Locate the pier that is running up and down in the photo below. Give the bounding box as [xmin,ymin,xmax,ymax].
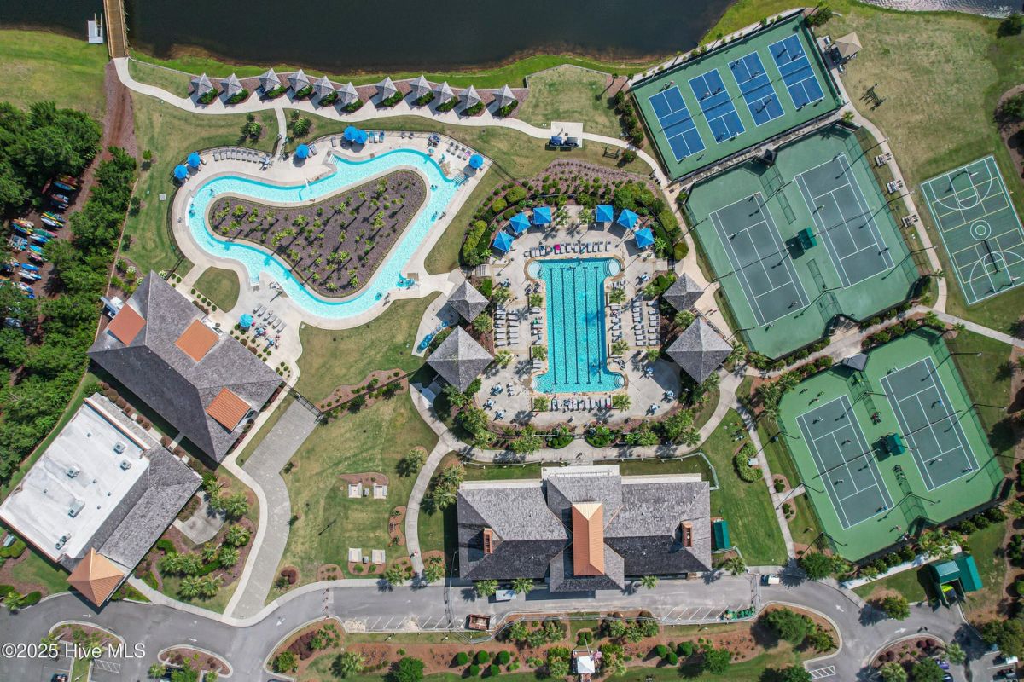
[88,10,104,45]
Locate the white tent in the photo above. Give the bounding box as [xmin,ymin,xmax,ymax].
[577,655,595,674]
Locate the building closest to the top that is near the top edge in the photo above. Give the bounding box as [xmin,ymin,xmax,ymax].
[829,31,863,63]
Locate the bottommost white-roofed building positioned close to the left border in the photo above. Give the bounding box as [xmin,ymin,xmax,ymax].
[0,393,206,570]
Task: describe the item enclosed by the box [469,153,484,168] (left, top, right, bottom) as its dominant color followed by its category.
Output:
blue umbrella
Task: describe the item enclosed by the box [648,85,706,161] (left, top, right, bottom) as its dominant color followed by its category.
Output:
blue sports court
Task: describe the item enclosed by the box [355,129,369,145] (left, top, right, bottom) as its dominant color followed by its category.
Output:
blue umbrella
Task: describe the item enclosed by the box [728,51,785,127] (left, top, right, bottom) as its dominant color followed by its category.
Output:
blue sports court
